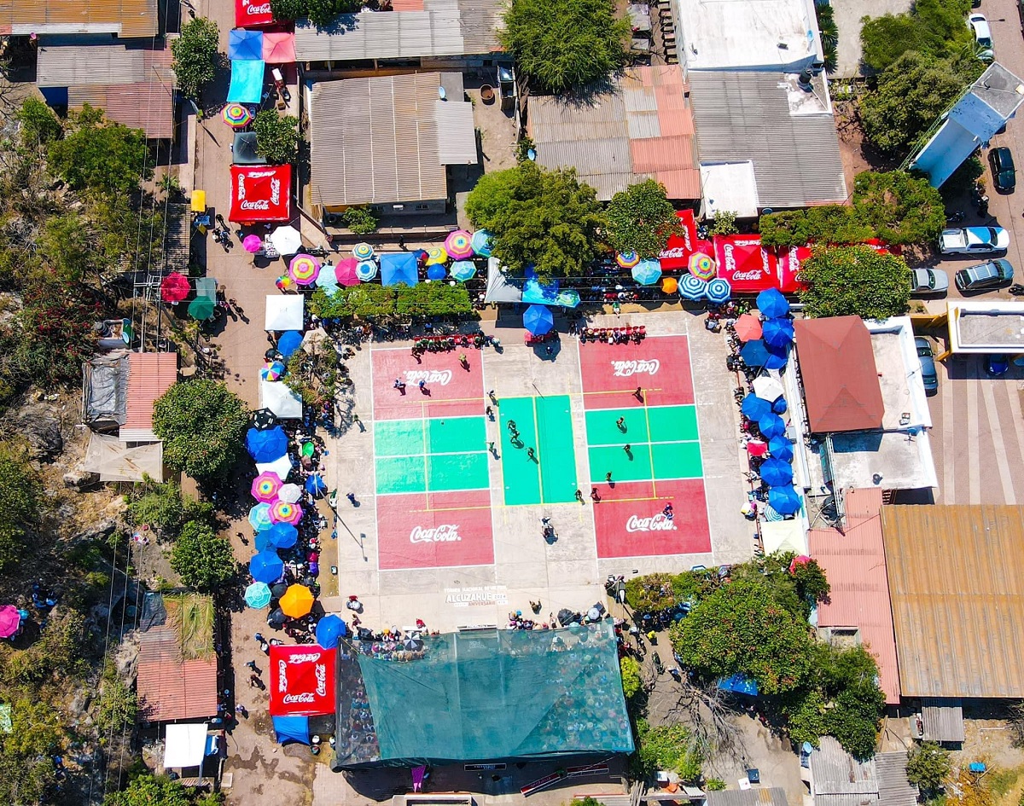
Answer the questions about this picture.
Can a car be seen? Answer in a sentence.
Yes, a car appears in the view.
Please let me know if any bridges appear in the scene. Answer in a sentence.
No, I find no bridge anywhere in the image.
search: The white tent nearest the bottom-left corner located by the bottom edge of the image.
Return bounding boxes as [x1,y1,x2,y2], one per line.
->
[163,720,216,767]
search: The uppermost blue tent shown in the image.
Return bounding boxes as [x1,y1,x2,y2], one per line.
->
[228,31,268,74]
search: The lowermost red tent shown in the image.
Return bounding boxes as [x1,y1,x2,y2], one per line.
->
[270,644,335,716]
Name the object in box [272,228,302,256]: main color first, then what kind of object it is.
white umbrella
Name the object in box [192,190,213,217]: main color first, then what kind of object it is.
yellow tent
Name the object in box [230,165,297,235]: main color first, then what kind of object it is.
red tent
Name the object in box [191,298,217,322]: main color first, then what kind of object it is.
green umbrella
